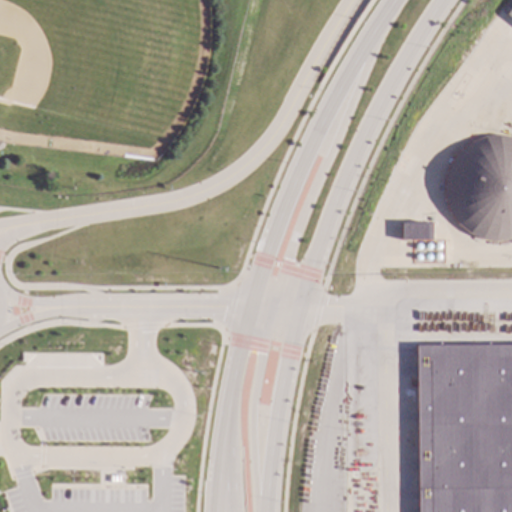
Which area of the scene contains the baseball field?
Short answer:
top left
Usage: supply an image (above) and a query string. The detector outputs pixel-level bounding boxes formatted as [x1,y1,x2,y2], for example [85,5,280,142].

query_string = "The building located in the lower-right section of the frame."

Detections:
[418,344,512,512]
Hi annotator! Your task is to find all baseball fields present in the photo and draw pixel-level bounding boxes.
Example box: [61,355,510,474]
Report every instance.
[0,0,213,160]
